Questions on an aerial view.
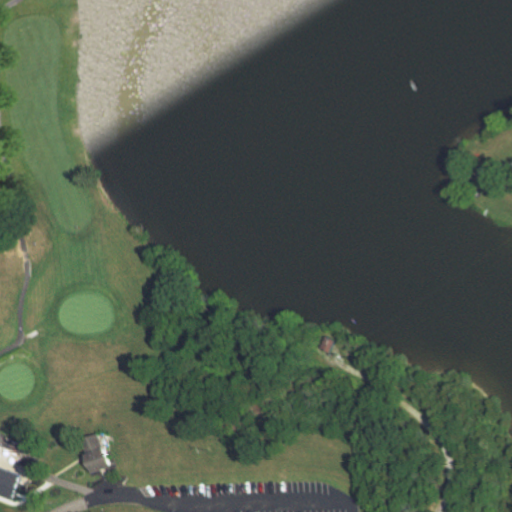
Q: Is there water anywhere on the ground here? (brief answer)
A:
Yes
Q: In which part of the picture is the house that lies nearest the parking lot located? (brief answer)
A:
bottom left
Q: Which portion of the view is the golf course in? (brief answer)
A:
left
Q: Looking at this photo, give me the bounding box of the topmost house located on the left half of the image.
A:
[82,435,111,474]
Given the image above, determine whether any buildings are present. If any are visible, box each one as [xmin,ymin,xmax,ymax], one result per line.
[0,470,24,500]
[320,337,334,354]
[82,435,111,474]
